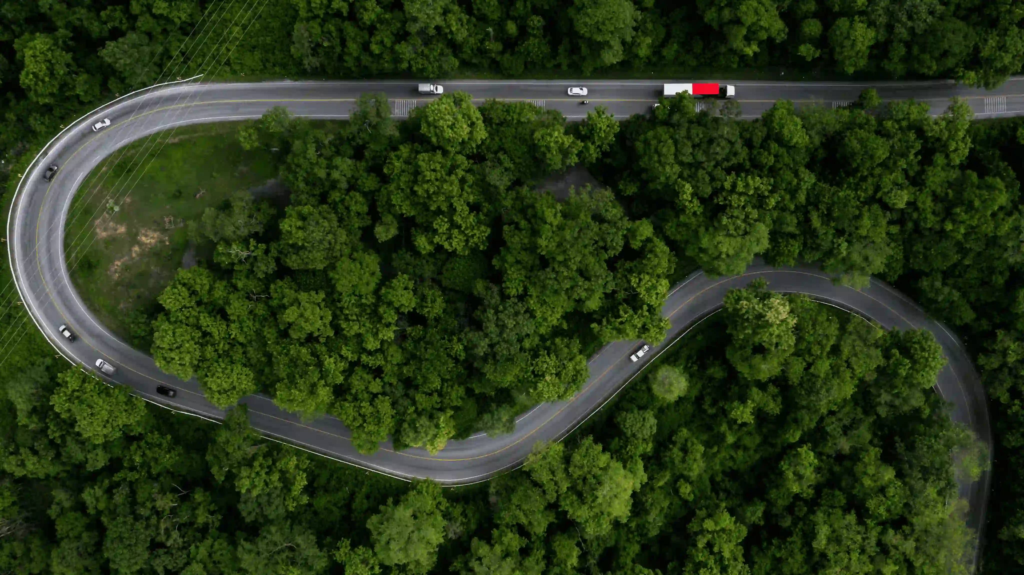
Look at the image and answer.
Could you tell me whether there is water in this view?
No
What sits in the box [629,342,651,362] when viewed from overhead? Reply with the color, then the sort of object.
white vehicle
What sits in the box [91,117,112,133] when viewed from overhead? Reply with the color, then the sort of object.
white car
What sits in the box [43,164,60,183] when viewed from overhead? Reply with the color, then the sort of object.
gray car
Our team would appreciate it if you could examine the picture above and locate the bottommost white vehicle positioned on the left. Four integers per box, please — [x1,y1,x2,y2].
[95,359,119,377]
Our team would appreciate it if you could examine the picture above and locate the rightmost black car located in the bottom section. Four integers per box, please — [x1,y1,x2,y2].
[156,384,177,397]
